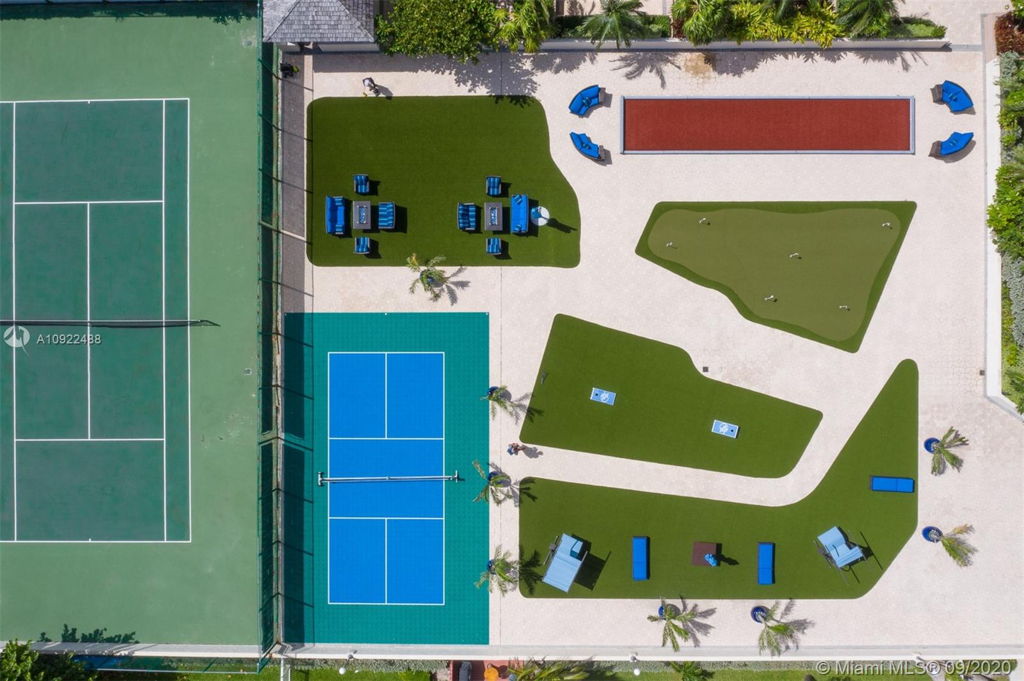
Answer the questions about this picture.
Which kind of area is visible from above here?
sports ground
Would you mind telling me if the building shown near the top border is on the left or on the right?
left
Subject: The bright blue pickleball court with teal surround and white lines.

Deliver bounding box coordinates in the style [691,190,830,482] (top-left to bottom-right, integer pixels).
[284,312,490,645]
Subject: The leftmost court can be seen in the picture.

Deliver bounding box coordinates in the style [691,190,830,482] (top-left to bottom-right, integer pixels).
[0,1,277,643]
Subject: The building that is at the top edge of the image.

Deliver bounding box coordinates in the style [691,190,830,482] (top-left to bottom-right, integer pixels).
[263,0,385,51]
